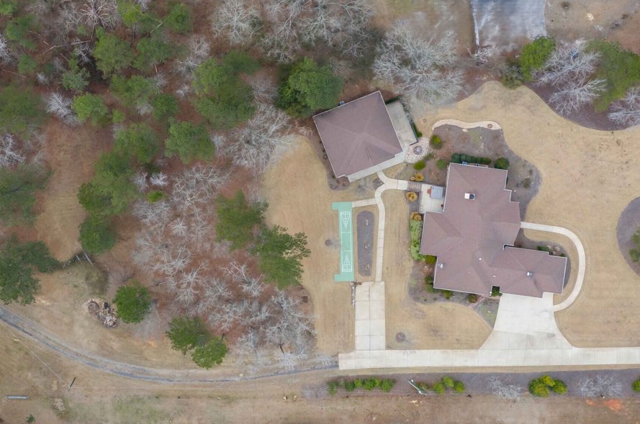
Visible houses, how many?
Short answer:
2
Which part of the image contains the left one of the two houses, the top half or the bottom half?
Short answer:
top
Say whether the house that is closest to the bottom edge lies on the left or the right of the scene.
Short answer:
right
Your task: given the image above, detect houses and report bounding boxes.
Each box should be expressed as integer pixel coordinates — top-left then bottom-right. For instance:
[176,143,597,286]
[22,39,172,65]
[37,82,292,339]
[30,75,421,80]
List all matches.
[418,163,568,298]
[313,91,403,177]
